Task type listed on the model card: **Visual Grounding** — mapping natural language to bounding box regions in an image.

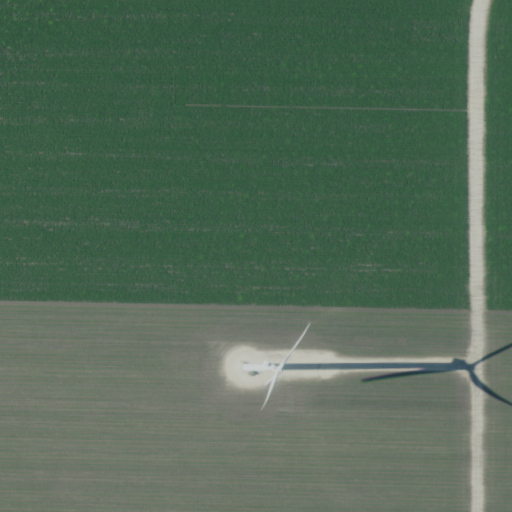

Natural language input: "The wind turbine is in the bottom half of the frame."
[241,323,310,412]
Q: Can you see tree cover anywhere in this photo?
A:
No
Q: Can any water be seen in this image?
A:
No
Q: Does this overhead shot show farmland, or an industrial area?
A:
farmland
